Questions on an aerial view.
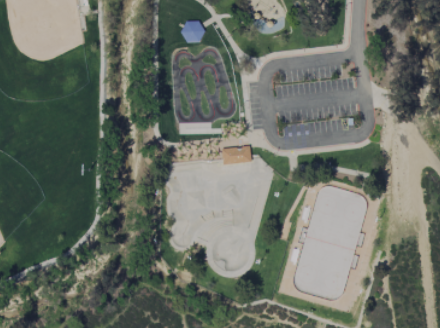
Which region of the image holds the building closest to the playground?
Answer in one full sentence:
The building closest to the playground appears toward the top of the photo.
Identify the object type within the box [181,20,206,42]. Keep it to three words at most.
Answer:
building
